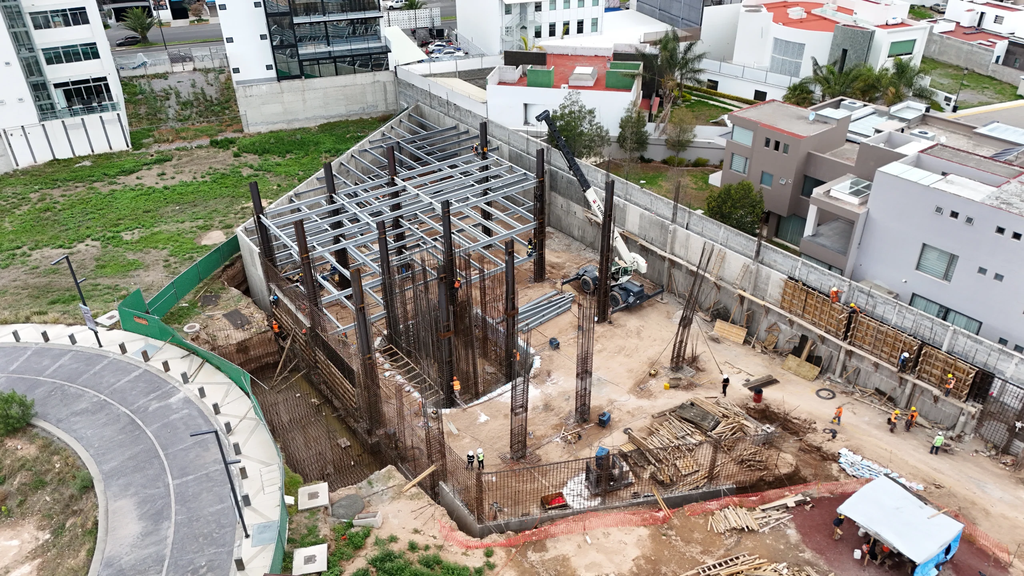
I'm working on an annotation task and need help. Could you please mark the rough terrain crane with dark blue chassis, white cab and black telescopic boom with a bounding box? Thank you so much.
[538,110,668,317]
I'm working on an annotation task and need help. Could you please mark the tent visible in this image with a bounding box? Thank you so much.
[824,474,966,576]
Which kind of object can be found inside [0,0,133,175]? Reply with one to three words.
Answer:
building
